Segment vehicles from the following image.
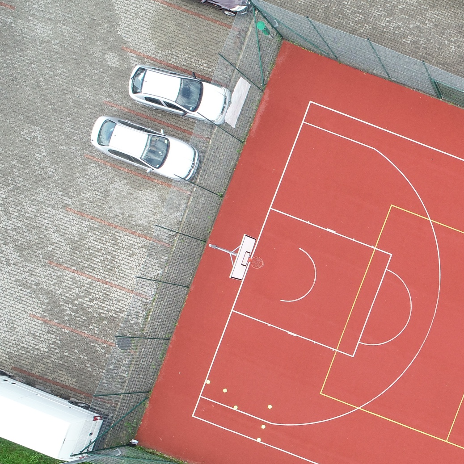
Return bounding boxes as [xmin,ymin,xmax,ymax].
[0,374,109,460]
[198,0,253,19]
[127,66,229,126]
[88,112,199,182]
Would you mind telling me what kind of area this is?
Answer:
sports ground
